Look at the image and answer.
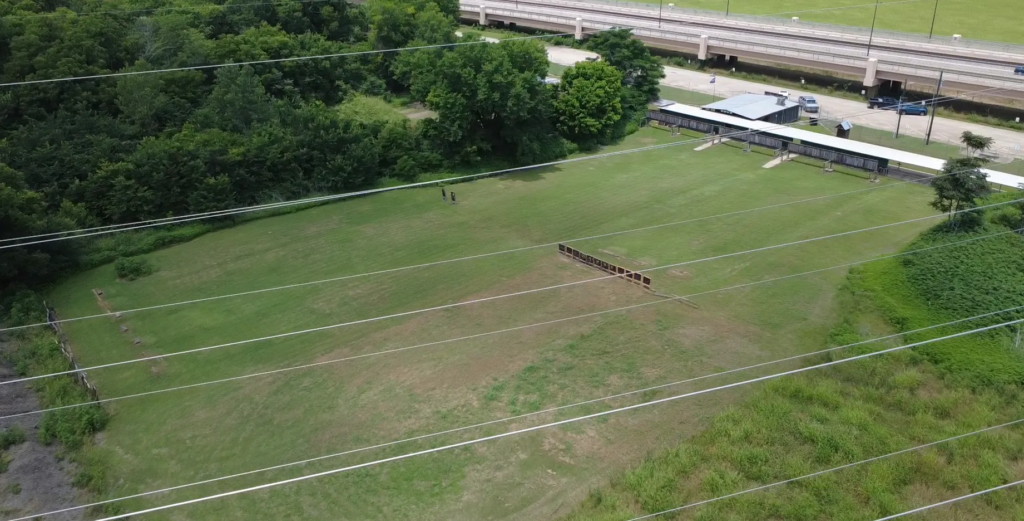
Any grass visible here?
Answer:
Yes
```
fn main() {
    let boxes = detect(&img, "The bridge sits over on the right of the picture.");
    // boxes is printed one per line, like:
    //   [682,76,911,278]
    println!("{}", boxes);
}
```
[406,0,1024,102]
